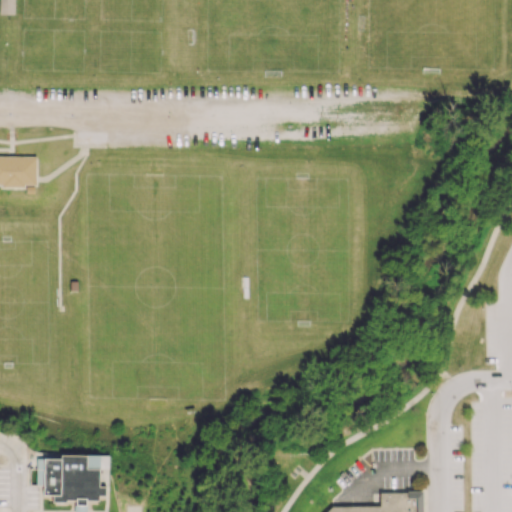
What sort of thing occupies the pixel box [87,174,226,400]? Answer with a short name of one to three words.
soccer field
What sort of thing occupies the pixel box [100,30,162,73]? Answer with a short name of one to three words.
soccer field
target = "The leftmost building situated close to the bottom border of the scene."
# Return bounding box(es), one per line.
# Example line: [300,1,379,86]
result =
[37,456,111,512]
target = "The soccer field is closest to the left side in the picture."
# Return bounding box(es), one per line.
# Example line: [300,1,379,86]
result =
[0,240,50,364]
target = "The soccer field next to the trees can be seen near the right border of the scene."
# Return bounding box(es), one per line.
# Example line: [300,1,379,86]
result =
[368,0,495,69]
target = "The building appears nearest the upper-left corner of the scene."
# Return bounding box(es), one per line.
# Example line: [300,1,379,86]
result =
[0,155,36,188]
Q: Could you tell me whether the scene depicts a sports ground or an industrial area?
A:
sports ground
